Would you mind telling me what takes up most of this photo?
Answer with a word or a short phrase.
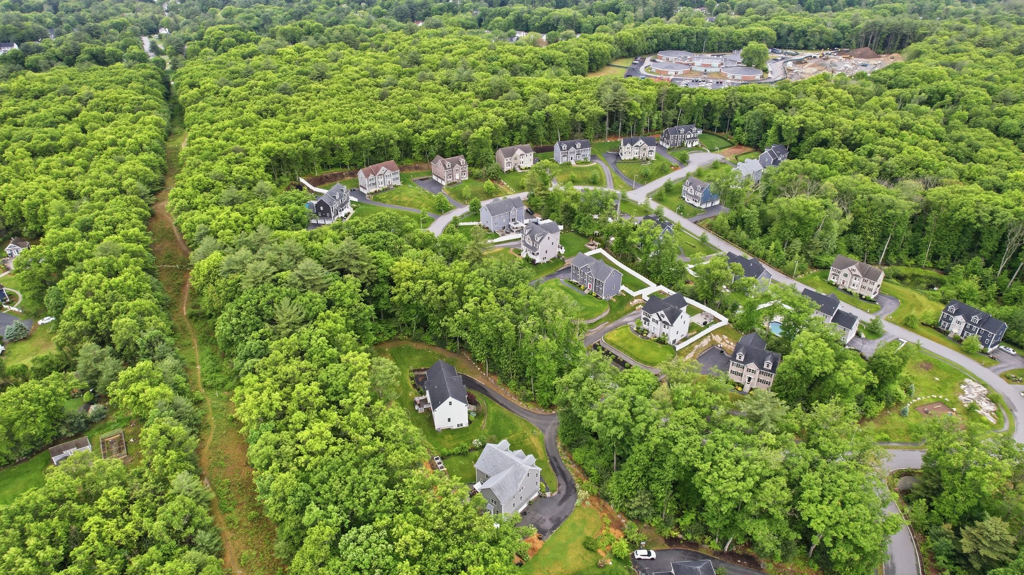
trees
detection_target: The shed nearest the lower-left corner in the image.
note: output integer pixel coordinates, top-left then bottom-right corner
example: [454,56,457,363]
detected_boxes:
[44,429,91,465]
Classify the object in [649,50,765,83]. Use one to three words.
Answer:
building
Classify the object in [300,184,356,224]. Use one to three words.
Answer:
house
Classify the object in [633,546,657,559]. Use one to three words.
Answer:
vehicle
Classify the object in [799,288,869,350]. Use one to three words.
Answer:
house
